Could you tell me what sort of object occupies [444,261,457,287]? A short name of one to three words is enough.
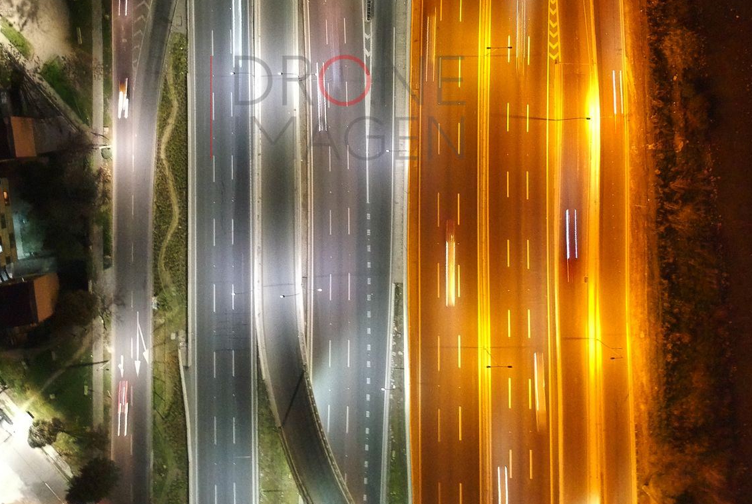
vehicle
